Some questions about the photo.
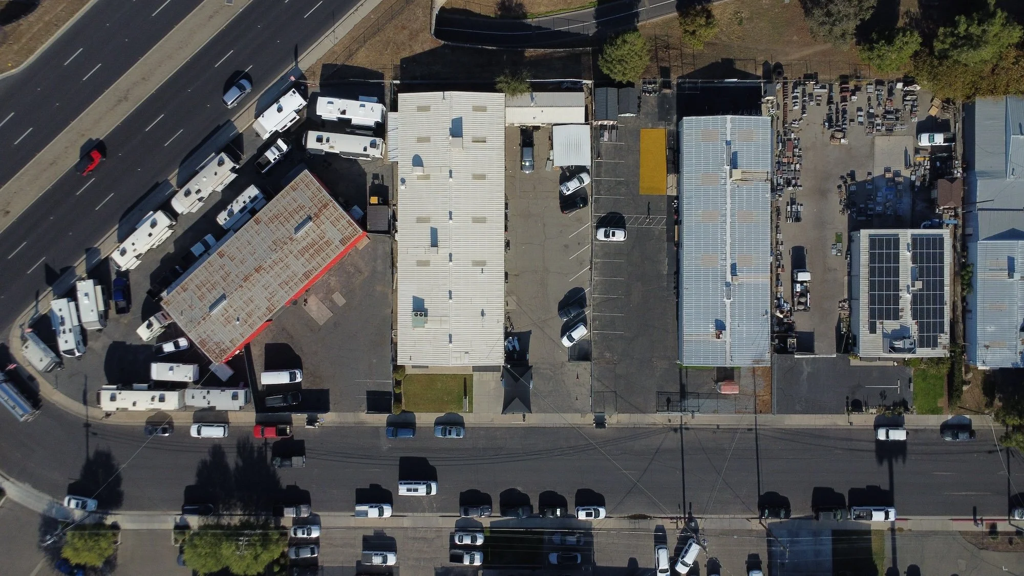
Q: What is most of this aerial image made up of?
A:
paved ground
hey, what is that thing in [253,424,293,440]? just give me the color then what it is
red vehicle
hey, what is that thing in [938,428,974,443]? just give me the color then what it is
black car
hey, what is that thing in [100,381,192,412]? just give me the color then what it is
white trailer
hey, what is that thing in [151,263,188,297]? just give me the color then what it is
black truck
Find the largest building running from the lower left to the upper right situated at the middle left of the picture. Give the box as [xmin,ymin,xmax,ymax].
[161,166,367,365]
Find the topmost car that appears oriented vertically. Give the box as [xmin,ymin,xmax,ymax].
[519,130,536,174]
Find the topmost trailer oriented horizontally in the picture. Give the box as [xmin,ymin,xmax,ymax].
[317,98,389,130]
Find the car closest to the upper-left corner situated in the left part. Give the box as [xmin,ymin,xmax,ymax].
[76,146,108,176]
